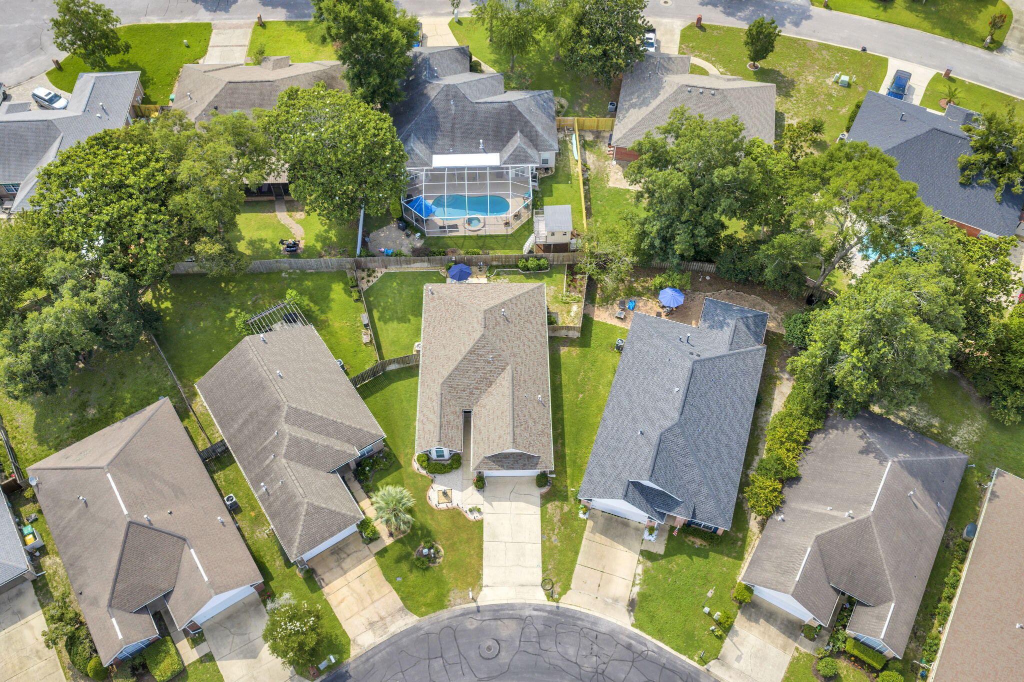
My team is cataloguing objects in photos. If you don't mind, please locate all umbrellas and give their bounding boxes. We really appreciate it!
[657,288,684,310]
[449,265,472,283]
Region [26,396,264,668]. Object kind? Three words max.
house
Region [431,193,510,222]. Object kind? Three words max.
swimming pool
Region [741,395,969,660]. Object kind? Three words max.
house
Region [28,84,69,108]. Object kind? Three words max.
car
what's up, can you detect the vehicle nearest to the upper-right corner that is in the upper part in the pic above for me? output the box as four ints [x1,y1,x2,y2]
[892,70,915,104]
